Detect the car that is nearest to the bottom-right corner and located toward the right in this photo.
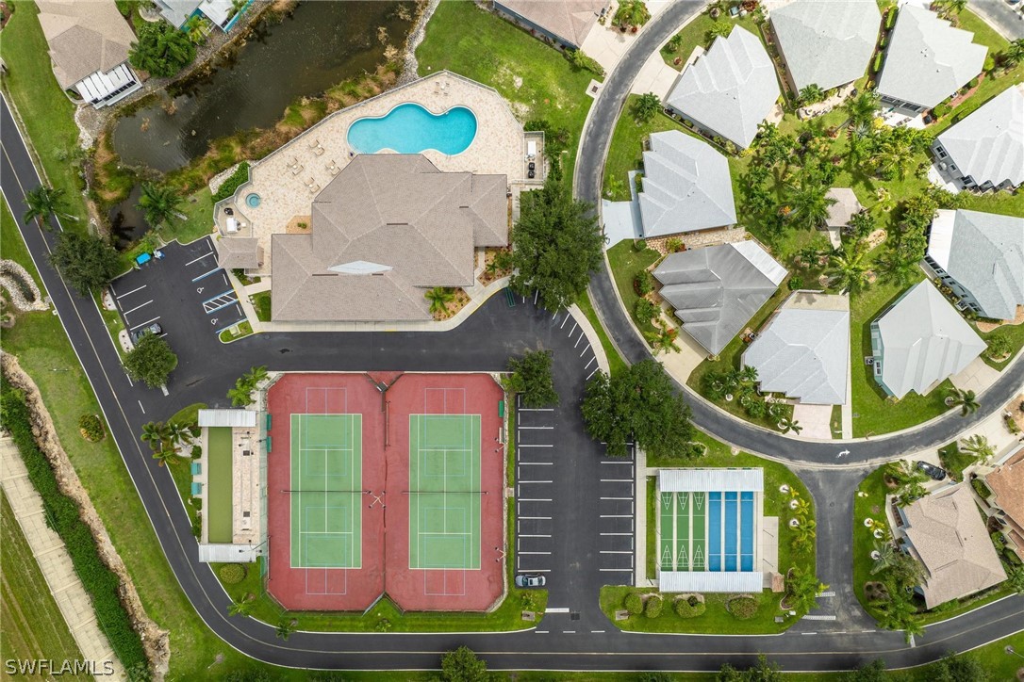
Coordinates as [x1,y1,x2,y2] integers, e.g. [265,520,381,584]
[915,459,947,480]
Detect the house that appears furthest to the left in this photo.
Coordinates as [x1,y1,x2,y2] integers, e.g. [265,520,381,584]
[33,0,142,108]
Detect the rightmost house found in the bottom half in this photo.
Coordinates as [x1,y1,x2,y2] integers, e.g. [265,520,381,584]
[978,443,1024,552]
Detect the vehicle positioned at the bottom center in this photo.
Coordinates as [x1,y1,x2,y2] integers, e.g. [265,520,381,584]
[516,574,546,589]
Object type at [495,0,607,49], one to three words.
house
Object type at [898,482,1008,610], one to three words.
house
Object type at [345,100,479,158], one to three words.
swimming pool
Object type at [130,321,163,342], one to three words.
car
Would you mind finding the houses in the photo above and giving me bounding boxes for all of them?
[652,240,788,356]
[767,0,882,96]
[638,130,737,238]
[898,482,1008,610]
[872,3,989,111]
[742,293,850,405]
[495,0,607,49]
[153,0,256,38]
[667,24,780,149]
[978,443,1024,552]
[932,81,1024,186]
[33,0,142,108]
[871,278,988,400]
[918,209,1024,320]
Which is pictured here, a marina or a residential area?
residential area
